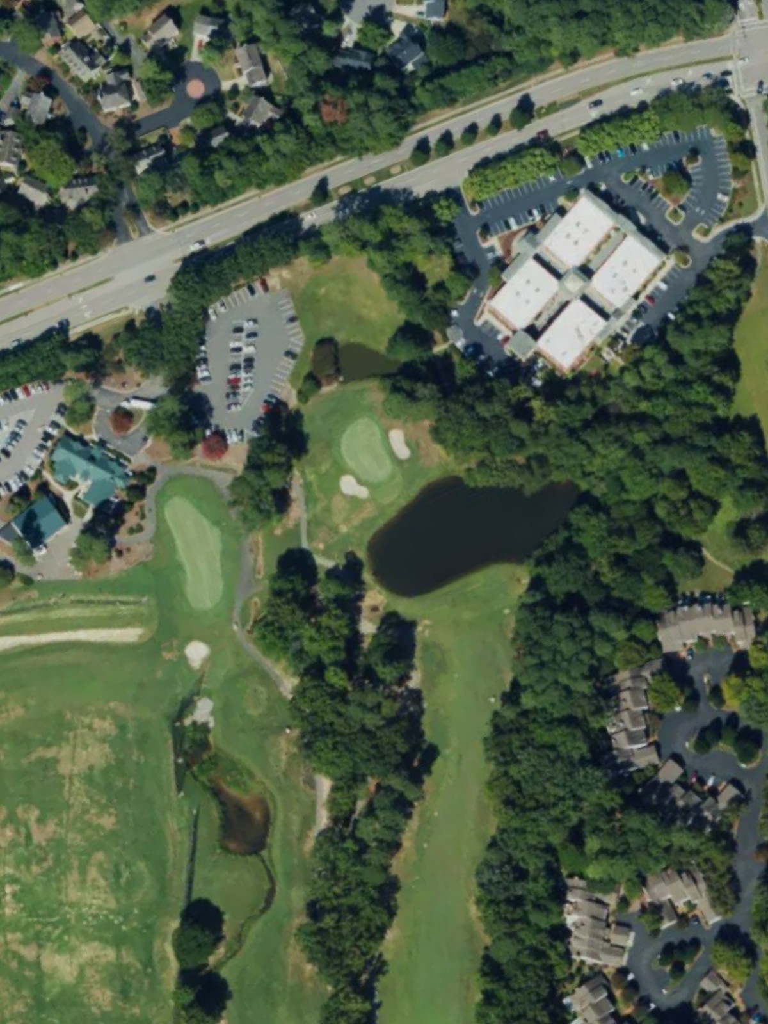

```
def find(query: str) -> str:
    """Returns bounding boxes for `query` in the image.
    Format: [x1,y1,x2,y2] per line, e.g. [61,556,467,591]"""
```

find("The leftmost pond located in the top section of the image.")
[335,342,413,383]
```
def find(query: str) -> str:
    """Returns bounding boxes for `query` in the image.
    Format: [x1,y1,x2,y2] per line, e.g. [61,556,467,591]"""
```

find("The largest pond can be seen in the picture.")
[367,475,578,597]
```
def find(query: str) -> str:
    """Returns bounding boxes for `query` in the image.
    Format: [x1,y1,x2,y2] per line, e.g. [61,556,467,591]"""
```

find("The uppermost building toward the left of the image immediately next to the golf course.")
[50,434,132,506]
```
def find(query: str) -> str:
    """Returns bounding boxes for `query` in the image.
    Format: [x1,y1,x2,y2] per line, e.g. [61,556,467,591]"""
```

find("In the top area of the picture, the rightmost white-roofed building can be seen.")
[490,191,667,371]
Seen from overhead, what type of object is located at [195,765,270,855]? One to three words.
pond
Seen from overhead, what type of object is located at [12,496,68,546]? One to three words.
building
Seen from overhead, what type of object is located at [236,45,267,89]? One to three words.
house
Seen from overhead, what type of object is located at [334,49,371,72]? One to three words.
house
